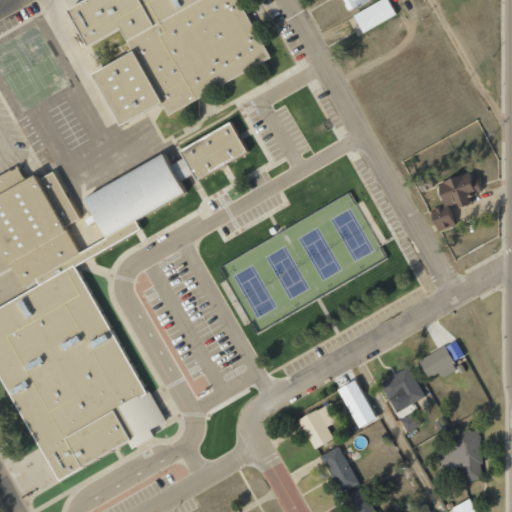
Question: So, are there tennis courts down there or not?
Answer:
Yes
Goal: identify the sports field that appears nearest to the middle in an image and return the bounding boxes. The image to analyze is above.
[224,193,387,333]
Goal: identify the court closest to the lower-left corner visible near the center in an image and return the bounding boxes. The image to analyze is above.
[235,266,276,318]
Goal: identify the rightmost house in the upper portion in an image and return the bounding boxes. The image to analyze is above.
[431,172,482,232]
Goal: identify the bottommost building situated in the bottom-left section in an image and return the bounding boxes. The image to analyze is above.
[0,266,148,482]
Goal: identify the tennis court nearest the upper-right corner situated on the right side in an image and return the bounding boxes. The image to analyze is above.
[332,209,374,262]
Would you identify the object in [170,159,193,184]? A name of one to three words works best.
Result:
building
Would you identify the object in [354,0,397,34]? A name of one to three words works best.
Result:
barn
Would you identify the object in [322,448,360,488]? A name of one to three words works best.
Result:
house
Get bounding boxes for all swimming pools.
[354,436,368,450]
